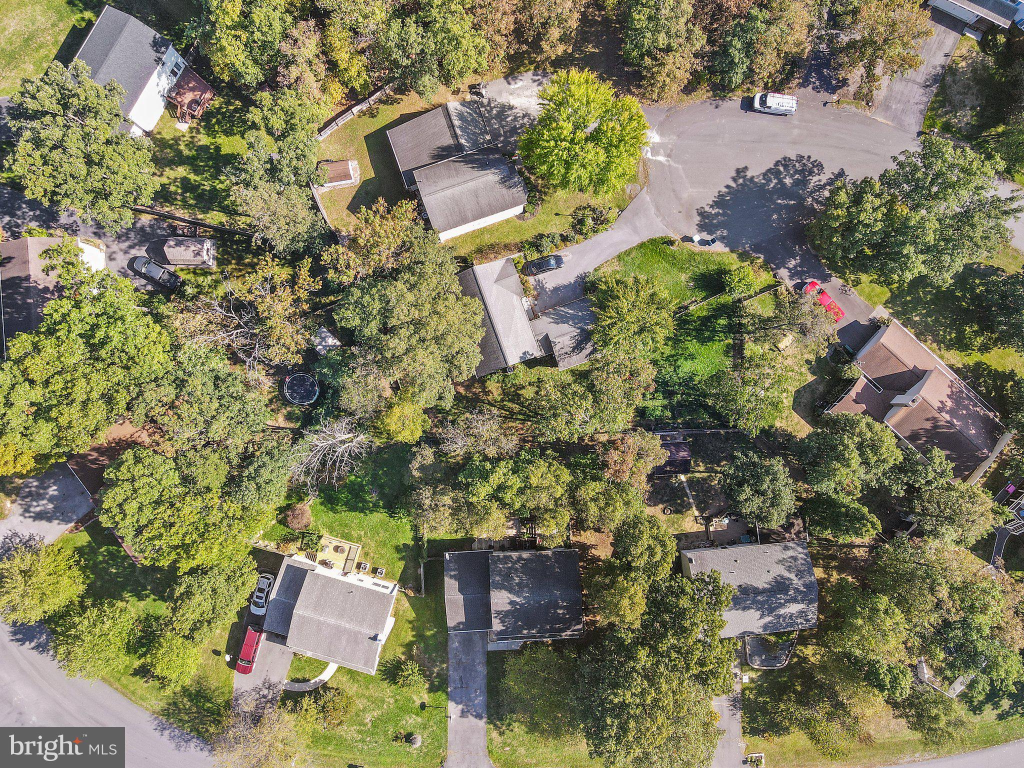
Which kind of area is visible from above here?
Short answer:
residential area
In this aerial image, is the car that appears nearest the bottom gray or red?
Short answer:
red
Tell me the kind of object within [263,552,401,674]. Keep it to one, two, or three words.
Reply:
house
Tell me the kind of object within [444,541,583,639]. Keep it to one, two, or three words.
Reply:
house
